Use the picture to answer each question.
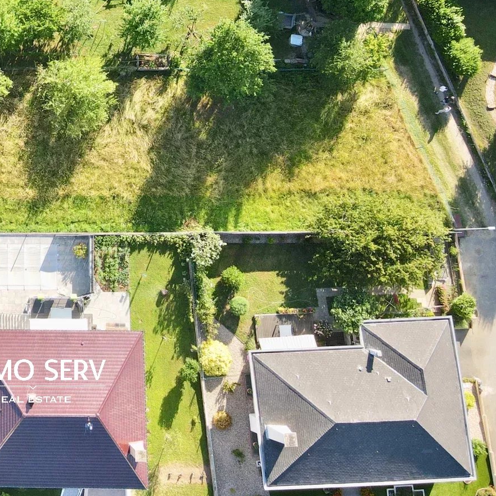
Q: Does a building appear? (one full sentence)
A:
Yes, you can see a building in this photo.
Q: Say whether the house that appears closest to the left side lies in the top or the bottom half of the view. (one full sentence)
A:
You can find the house that appears closest to the left side in the bottom half.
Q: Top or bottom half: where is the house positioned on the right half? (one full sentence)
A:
Seen from above, the house positioned on the right half lies in the bottom half of the view.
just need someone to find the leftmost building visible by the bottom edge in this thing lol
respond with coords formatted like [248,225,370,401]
[0,328,151,490]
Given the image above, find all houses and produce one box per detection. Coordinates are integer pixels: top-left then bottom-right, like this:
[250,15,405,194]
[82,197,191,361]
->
[0,328,151,490]
[242,311,481,494]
